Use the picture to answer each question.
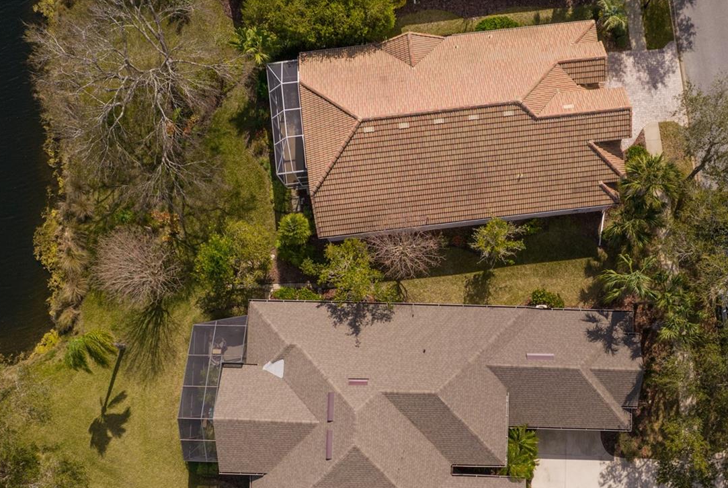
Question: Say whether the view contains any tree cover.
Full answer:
Yes, the picture does contain tree cover.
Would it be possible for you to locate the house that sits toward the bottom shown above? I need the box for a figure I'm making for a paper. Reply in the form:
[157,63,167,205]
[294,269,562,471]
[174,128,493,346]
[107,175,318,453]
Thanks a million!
[213,298,644,488]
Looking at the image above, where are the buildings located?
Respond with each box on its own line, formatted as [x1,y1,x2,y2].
[297,18,632,246]
[213,298,644,488]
